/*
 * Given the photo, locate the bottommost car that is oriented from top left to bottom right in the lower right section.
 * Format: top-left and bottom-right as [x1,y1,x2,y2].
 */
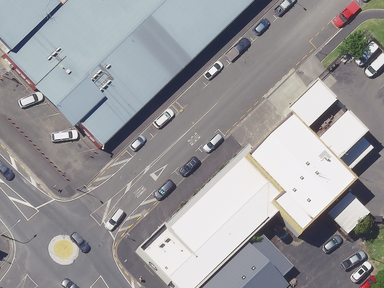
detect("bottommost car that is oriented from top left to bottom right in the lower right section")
[271,222,293,244]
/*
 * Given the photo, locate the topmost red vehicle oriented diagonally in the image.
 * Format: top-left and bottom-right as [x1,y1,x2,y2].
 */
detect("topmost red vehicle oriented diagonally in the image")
[334,2,360,26]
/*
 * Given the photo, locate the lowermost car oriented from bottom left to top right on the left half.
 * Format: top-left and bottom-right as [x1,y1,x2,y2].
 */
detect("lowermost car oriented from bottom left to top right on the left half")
[104,208,126,230]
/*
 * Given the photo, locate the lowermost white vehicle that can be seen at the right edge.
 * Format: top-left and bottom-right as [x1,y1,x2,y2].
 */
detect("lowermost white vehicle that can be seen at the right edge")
[350,261,372,282]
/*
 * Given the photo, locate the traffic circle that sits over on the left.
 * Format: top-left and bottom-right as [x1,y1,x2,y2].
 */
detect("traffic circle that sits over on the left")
[48,233,79,264]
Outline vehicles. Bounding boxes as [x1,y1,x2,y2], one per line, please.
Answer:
[358,274,374,288]
[178,155,200,177]
[350,261,372,282]
[225,38,250,62]
[334,2,360,26]
[364,54,384,76]
[18,92,43,108]
[272,0,296,16]
[322,232,344,253]
[51,130,77,142]
[202,130,224,152]
[355,42,378,64]
[128,133,148,152]
[152,107,174,128]
[154,178,176,200]
[340,250,366,270]
[70,230,91,253]
[62,278,80,288]
[271,222,293,244]
[104,208,126,230]
[0,158,15,180]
